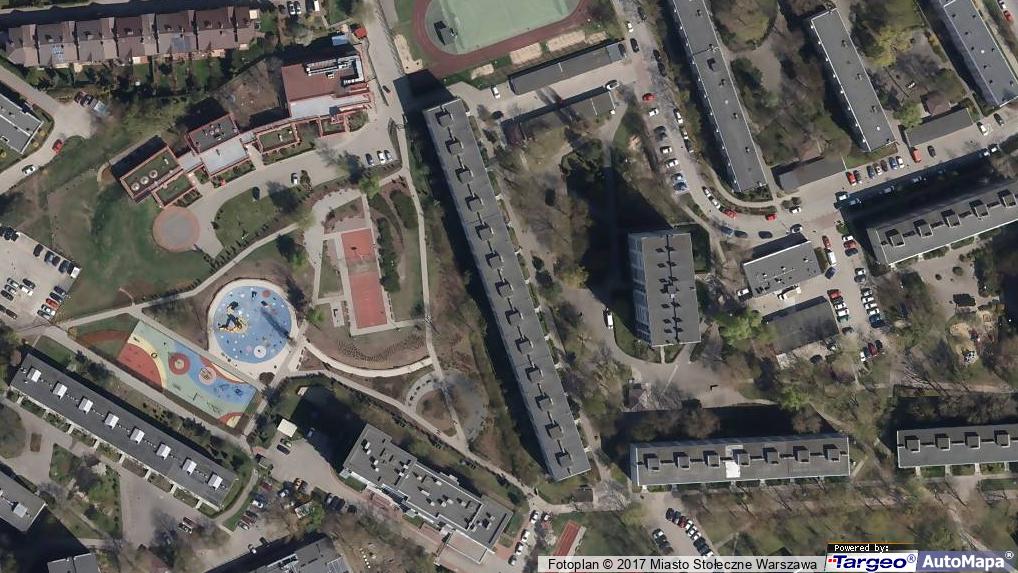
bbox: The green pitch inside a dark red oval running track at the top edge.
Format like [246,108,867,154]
[413,0,594,78]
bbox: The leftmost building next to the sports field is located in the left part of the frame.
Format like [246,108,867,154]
[121,55,372,208]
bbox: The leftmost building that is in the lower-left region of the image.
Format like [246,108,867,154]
[0,467,48,530]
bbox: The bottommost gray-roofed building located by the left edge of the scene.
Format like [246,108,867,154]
[48,544,100,573]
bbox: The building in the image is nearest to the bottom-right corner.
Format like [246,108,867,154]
[888,420,1018,472]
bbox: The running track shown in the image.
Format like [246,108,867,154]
[413,0,594,78]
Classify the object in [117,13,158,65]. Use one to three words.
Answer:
house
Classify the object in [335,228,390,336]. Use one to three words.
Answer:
sports court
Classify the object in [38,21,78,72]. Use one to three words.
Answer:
house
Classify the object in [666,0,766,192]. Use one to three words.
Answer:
building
